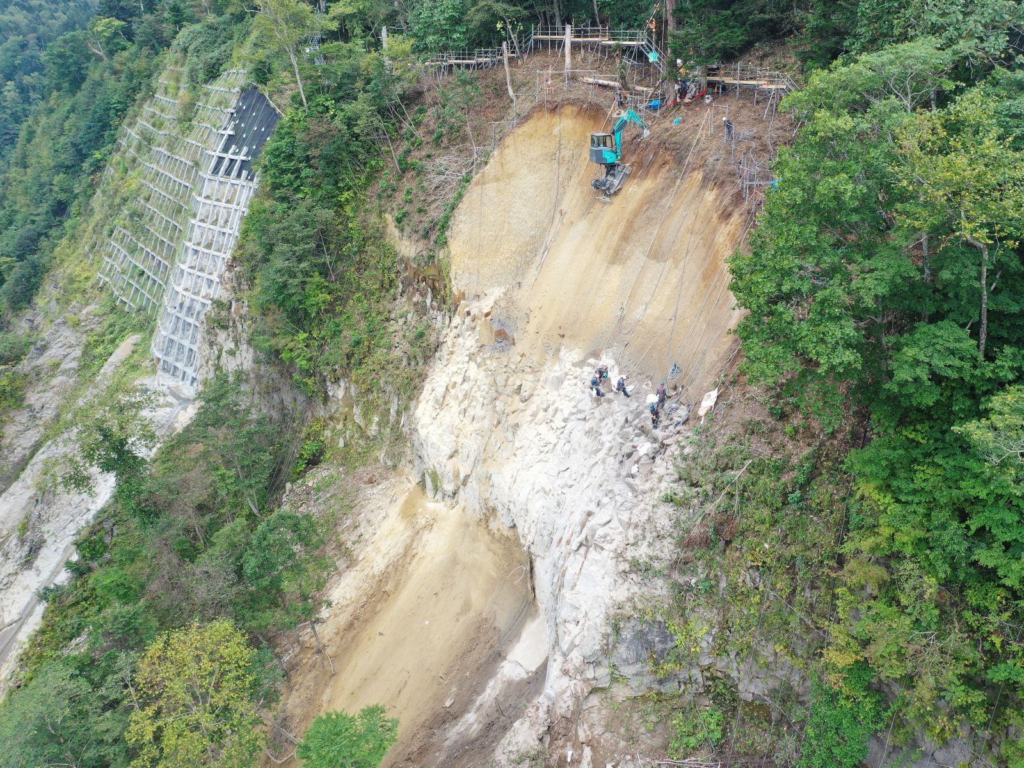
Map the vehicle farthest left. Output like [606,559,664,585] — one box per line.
[589,106,653,204]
